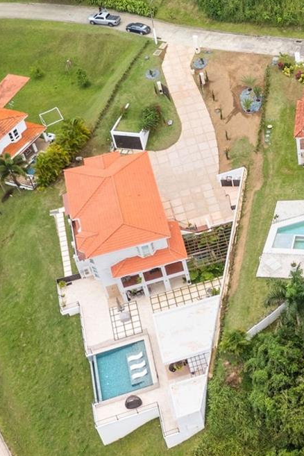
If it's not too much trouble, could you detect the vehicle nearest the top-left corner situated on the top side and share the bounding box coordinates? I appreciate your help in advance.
[88,10,119,25]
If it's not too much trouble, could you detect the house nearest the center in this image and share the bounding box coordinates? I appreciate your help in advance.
[66,149,192,304]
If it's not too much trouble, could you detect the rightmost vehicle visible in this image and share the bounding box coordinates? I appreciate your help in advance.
[124,21,150,34]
